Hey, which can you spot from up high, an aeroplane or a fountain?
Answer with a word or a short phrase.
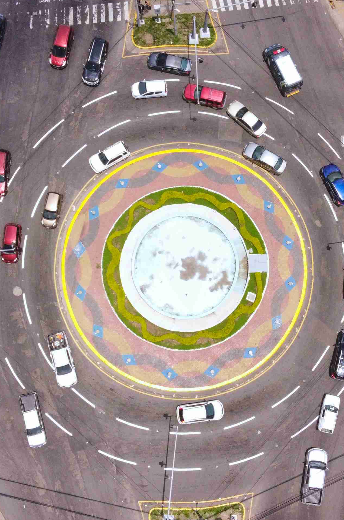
fountain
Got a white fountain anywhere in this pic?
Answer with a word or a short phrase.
Yes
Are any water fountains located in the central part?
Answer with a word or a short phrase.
Yes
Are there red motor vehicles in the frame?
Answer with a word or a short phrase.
Yes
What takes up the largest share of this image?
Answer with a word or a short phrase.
paved ground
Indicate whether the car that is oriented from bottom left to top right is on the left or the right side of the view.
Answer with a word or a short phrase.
left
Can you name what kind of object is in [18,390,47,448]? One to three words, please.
truck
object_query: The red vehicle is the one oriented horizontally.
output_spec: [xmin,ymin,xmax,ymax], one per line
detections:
[181,84,227,110]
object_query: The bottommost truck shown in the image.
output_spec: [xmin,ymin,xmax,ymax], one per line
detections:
[302,445,328,507]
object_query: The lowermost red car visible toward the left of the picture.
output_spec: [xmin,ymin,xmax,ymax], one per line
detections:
[0,223,22,264]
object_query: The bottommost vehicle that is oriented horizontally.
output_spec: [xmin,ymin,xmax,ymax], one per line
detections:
[176,399,225,424]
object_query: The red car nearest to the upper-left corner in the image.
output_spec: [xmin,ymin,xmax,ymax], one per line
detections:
[51,27,74,69]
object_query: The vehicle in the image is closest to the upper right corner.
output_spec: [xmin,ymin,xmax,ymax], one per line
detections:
[267,43,302,101]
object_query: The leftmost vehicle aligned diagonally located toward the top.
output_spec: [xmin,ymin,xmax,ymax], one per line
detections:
[88,138,132,174]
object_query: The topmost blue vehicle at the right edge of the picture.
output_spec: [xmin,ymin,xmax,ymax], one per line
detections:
[323,165,344,206]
